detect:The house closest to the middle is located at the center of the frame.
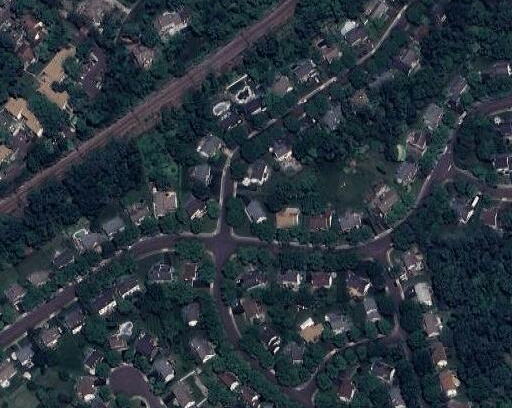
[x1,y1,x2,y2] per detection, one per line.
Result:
[244,199,268,225]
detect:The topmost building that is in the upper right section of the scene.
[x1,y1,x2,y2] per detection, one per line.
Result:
[367,0,390,22]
